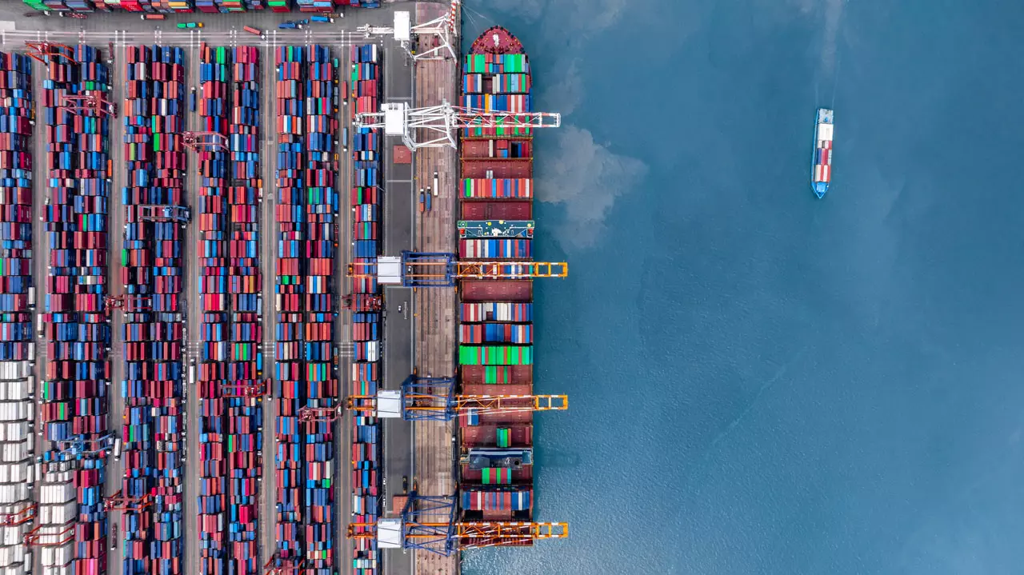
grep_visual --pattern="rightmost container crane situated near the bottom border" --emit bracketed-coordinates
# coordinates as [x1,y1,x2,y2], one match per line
[348,485,568,555]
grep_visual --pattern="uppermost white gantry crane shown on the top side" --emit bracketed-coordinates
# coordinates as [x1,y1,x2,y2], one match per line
[357,0,463,76]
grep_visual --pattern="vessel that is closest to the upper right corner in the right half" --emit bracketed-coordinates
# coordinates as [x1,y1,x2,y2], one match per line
[810,108,834,199]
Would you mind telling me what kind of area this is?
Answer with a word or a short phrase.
port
